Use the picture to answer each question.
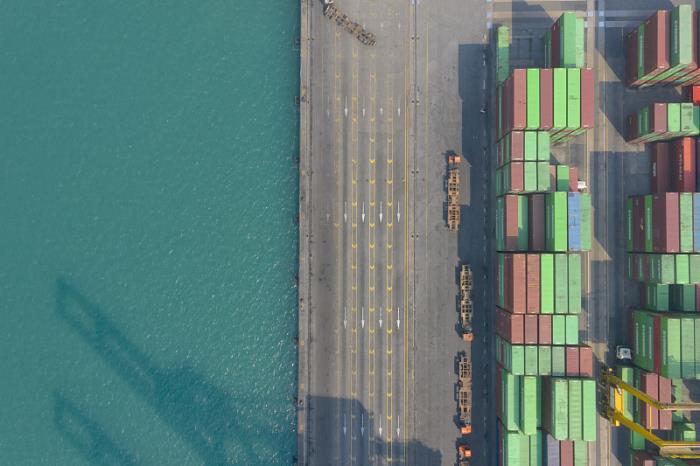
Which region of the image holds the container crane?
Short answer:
bottom right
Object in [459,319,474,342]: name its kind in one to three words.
work vehicle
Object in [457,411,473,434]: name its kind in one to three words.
work vehicle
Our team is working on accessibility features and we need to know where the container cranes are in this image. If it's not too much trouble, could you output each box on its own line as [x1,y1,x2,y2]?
[599,365,700,460]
